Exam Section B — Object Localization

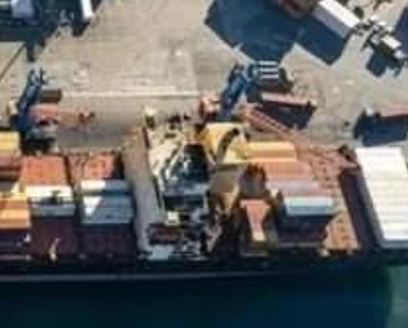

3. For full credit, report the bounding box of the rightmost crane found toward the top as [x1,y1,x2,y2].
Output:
[186,66,265,138]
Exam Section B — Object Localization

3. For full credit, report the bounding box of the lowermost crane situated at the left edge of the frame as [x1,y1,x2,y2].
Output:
[12,69,52,157]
